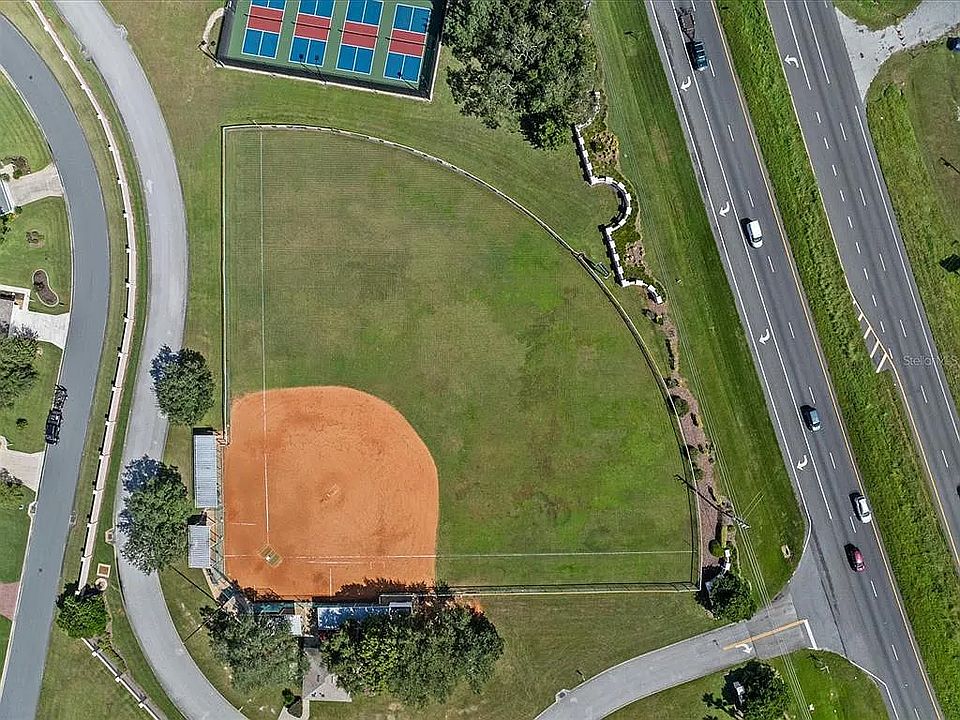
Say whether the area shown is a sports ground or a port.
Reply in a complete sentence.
This looks like a sports ground.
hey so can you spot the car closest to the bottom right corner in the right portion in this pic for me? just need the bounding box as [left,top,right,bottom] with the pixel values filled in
[848,546,864,572]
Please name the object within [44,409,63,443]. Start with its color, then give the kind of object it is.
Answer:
black vehicle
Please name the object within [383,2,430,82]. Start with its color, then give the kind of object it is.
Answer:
blue sports court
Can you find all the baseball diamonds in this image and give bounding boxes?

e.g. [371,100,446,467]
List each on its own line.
[224,128,698,599]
